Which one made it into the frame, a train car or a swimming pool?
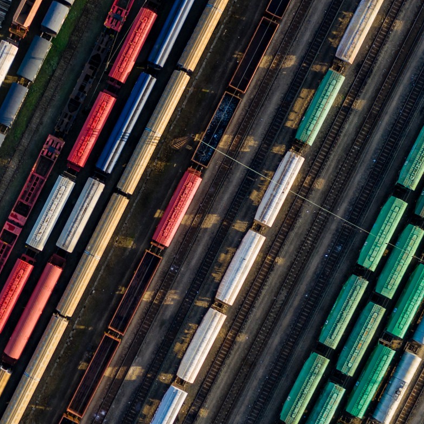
train car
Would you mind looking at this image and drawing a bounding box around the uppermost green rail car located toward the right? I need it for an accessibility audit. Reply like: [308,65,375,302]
[289,67,345,151]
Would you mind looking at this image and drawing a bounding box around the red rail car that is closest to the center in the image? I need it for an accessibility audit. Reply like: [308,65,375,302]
[149,166,202,250]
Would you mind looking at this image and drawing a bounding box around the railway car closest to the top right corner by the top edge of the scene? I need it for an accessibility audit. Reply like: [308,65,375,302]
[328,0,382,72]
